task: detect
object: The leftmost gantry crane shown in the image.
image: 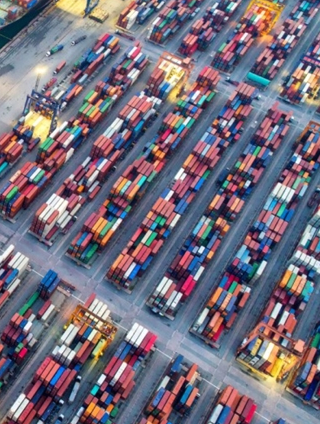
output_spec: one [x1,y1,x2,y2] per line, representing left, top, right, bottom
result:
[21,88,65,130]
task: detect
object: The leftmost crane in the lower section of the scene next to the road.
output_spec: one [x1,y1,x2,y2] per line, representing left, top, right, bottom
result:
[60,300,122,358]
